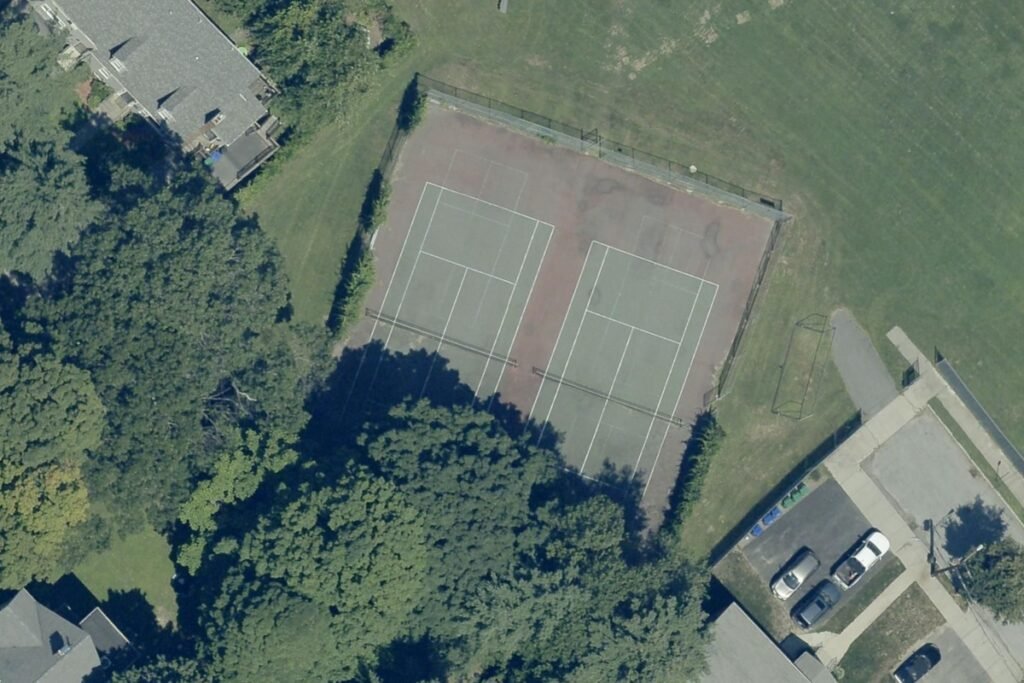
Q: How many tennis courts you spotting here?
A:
two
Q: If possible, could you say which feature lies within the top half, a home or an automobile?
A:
home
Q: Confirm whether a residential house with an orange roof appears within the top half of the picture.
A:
No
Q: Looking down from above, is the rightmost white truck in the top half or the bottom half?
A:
bottom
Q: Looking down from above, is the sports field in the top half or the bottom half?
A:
top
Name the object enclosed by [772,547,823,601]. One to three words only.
car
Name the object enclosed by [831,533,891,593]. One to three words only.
truck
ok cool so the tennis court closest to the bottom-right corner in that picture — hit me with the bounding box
[504,216,719,538]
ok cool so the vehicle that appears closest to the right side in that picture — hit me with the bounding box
[894,645,944,683]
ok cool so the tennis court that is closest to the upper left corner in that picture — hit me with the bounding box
[332,151,554,472]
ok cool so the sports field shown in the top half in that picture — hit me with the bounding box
[540,0,1024,461]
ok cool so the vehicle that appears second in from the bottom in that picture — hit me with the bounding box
[792,582,842,634]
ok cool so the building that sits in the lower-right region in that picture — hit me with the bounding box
[706,601,841,683]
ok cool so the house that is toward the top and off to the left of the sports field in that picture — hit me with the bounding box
[32,0,285,192]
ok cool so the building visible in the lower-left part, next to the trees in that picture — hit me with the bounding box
[0,588,131,683]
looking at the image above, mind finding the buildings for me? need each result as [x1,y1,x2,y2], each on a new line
[706,601,841,683]
[32,0,285,192]
[0,588,131,683]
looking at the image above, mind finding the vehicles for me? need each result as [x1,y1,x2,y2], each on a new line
[831,533,891,593]
[792,582,842,634]
[894,645,944,683]
[772,547,823,601]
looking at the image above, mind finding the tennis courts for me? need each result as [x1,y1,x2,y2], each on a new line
[332,151,554,472]
[504,216,719,538]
